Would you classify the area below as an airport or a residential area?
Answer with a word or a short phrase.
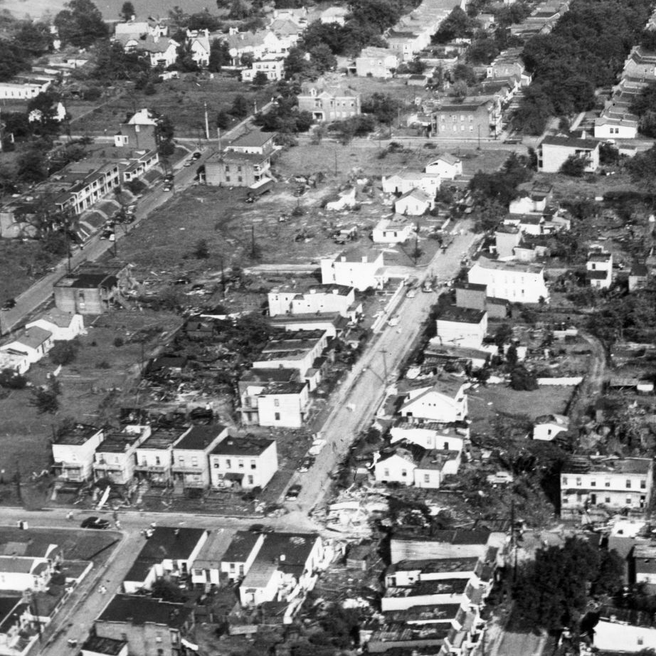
residential area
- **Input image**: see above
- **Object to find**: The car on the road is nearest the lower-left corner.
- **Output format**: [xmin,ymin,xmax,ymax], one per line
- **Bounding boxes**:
[81,516,110,528]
